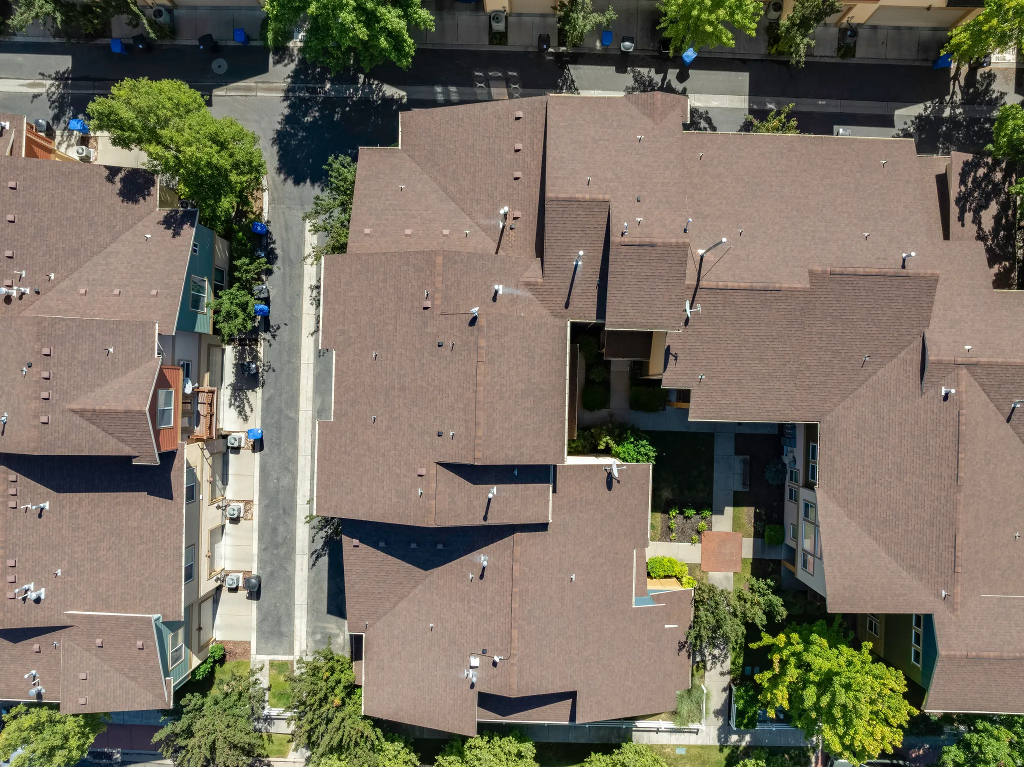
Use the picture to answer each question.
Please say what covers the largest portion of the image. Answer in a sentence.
What you mostly see from above here is buildings.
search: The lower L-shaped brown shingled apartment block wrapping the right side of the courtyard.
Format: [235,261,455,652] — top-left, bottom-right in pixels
[637,129,1024,715]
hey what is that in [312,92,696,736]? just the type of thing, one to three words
building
